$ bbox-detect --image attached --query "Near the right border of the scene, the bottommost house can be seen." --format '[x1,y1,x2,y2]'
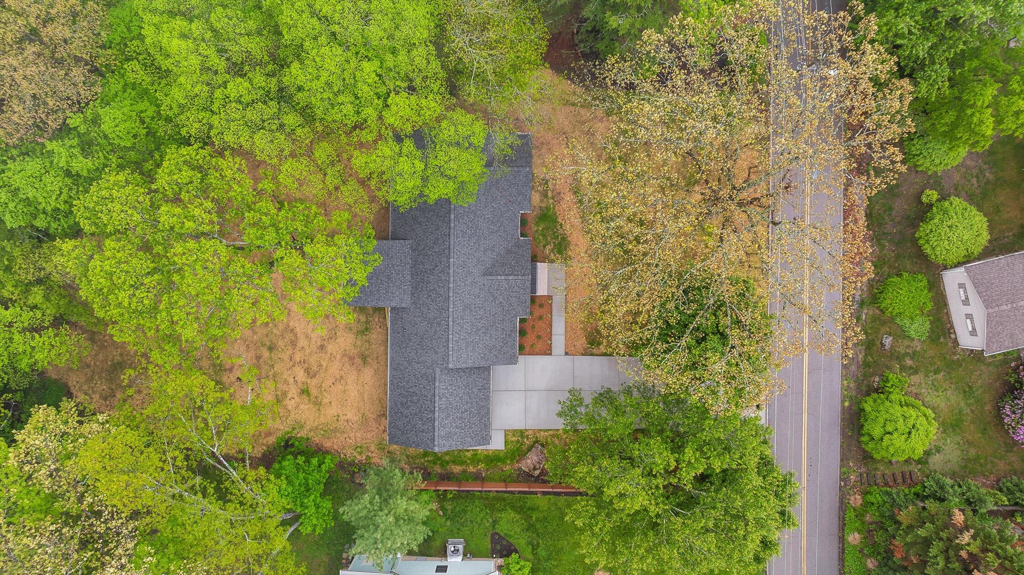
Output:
[941,249,1024,357]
